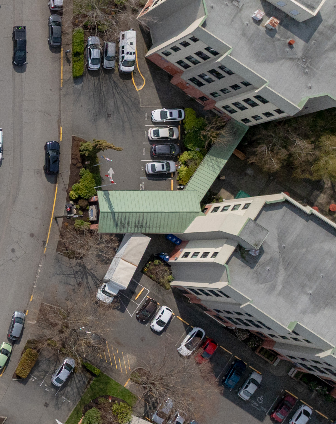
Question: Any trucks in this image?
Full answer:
Yes, looking at the shot, I can spot a truck.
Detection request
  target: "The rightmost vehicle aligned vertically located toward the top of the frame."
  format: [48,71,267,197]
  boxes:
[115,27,139,74]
